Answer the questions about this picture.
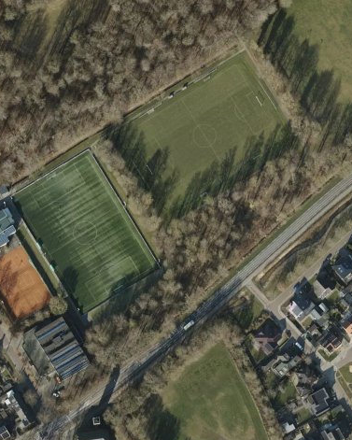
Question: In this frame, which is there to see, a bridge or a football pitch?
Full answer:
Of the two, only a football pitch appears.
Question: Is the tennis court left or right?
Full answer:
The tennis court appears in the left half of the scene.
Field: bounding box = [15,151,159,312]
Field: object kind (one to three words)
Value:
soccer field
